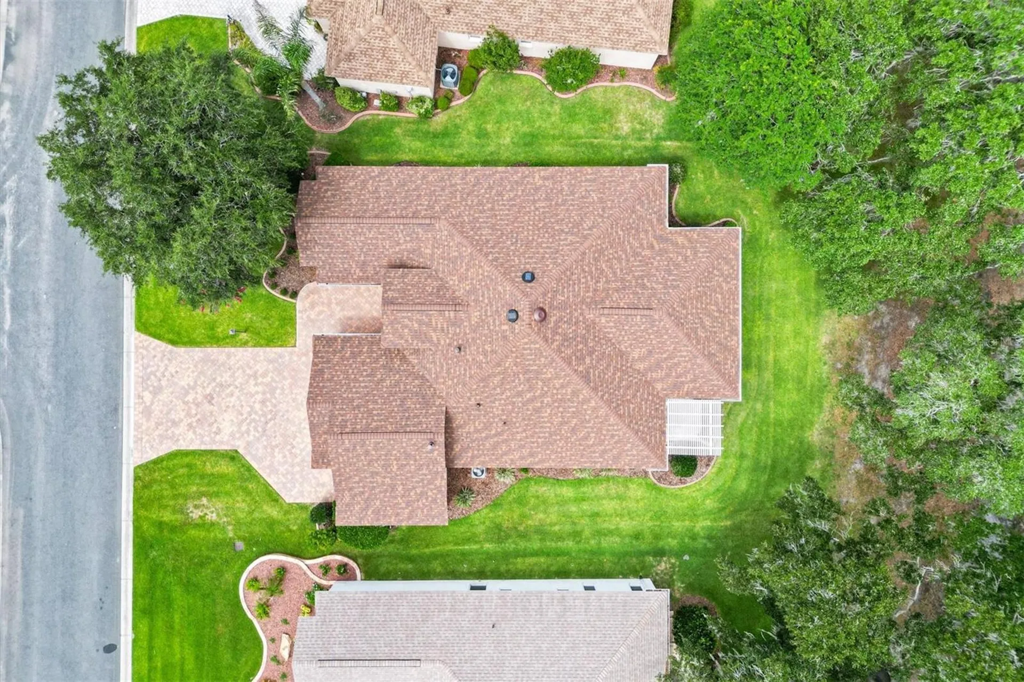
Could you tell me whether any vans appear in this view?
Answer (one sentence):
No, I find no van anywhere in the image.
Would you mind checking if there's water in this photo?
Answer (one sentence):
No, the picture contains no water.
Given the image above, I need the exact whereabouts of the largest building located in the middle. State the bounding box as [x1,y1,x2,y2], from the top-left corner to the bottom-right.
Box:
[292,164,744,525]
